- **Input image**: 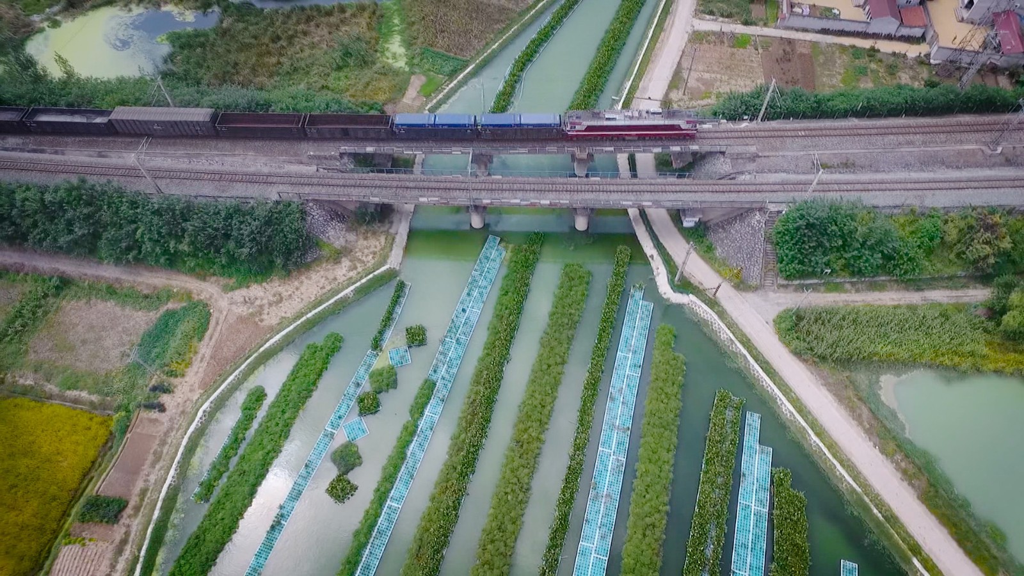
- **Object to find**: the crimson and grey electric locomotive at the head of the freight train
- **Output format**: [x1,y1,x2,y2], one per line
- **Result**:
[562,109,698,141]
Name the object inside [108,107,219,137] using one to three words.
rail car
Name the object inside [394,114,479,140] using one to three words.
rail car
